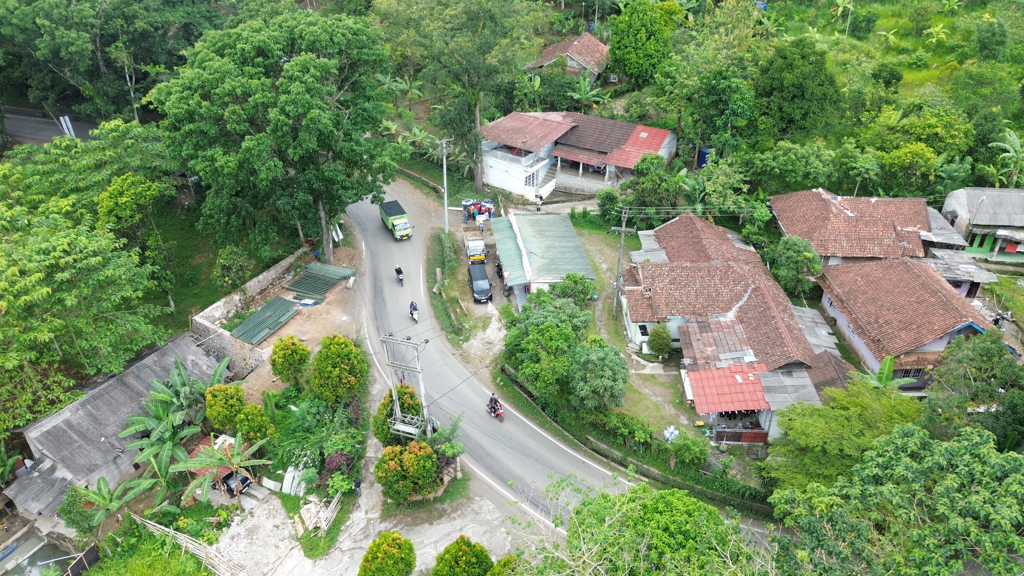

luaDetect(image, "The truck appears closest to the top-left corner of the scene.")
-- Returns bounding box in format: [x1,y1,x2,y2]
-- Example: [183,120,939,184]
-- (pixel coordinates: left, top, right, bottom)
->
[377,197,414,241]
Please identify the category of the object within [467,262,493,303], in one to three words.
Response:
vehicle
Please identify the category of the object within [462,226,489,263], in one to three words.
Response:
truck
